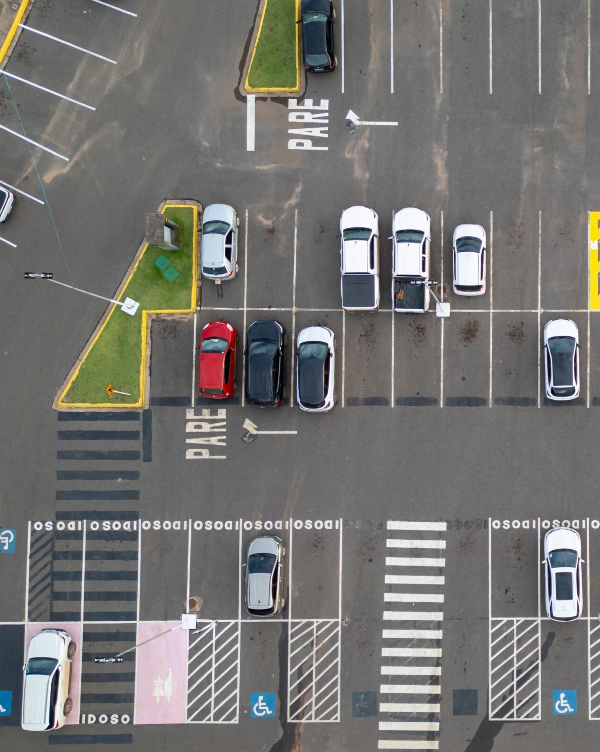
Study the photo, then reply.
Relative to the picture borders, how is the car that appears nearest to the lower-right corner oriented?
from top to bottom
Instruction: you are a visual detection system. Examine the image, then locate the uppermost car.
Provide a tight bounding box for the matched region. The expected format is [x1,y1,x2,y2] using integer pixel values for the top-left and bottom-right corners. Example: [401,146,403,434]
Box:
[296,0,340,74]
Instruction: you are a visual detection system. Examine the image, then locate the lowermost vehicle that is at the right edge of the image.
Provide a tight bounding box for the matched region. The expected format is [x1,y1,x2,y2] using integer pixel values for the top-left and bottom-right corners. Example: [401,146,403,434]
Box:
[541,527,586,621]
